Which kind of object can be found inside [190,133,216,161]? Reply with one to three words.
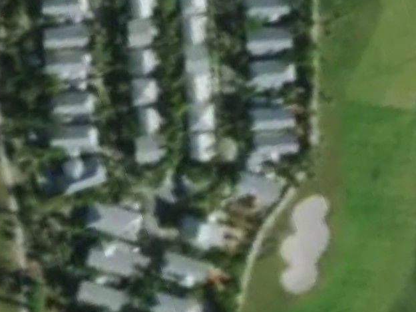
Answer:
house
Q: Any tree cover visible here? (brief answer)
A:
Yes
